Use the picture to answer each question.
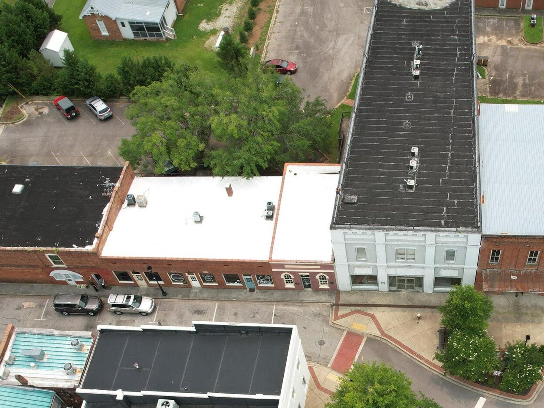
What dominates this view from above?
buildings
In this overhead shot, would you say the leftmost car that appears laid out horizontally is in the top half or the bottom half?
bottom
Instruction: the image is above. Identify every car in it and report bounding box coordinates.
[260,56,301,76]
[51,290,104,314]
[106,292,157,317]
[84,97,115,124]
[52,94,81,122]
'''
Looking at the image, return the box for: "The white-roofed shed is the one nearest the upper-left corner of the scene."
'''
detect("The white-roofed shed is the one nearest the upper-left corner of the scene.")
[45,23,73,66]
